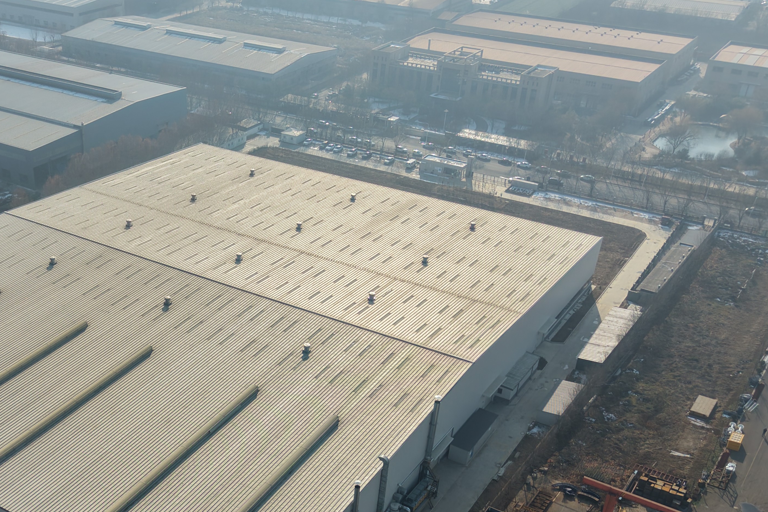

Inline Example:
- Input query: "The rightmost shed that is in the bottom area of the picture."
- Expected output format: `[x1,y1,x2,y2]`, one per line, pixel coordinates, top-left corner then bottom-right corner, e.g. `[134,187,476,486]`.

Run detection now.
[575,307,640,376]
